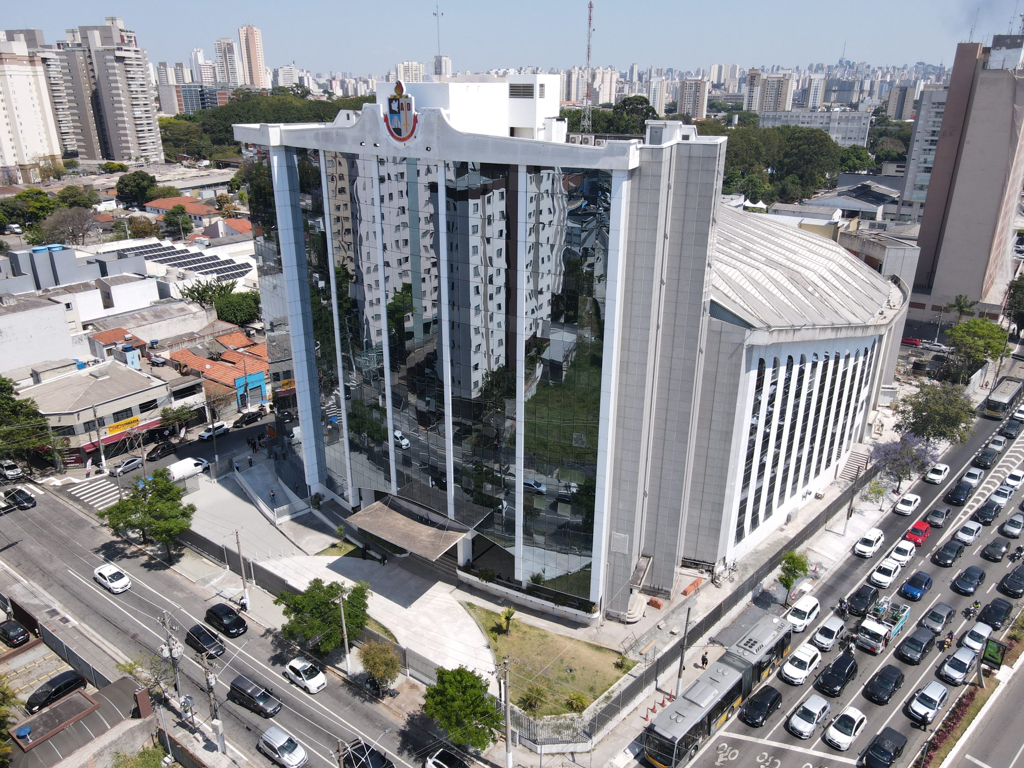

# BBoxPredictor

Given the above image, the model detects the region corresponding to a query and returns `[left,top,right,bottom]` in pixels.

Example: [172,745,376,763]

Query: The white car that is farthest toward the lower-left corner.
[90,565,129,595]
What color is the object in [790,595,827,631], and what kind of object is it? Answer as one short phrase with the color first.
white car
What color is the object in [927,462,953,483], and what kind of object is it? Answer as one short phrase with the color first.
white car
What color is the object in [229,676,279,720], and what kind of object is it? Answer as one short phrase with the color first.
gray car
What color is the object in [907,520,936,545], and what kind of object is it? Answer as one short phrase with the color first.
red car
